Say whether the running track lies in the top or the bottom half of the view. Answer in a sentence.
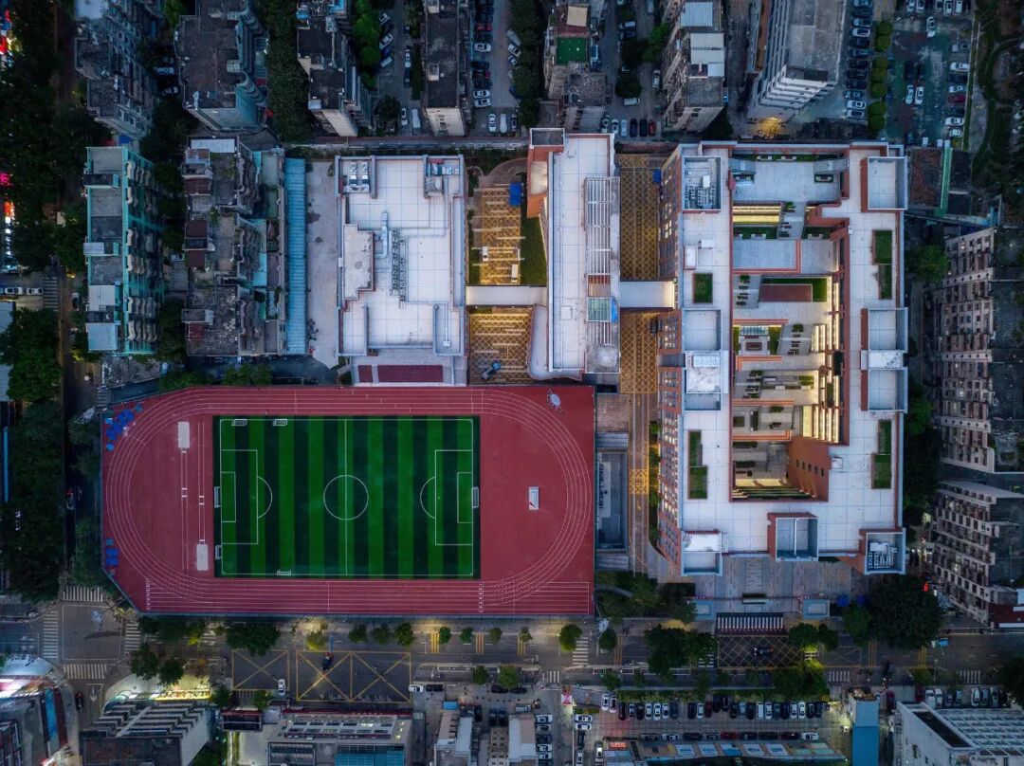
The running track is in the bottom half of the image.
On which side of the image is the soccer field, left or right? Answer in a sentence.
The soccer field appears in the left half of the scene.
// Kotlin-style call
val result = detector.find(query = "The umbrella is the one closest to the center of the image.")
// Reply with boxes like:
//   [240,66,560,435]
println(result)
[545,390,565,409]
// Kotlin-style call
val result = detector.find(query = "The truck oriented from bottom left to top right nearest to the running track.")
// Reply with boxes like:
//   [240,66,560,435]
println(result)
[476,357,502,382]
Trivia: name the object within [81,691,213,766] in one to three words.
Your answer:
building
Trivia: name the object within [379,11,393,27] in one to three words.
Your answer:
car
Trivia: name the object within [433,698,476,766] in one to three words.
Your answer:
house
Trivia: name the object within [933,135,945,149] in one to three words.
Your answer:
vehicle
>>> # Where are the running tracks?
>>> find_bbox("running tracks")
[101,384,596,615]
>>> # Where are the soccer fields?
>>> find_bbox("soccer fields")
[212,416,480,579]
